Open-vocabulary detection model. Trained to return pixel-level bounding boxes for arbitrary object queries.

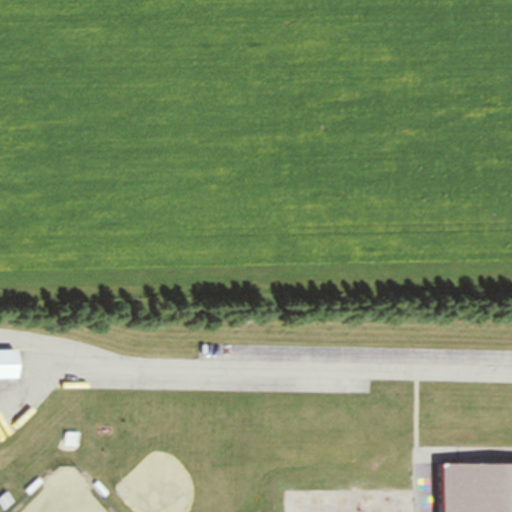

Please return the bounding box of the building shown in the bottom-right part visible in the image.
[439,463,512,512]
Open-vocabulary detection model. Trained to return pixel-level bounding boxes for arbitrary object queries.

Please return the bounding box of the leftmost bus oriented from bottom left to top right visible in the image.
[10,408,37,430]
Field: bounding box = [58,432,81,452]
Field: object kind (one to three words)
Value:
shed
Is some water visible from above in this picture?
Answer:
No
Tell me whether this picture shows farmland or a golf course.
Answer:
farmland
